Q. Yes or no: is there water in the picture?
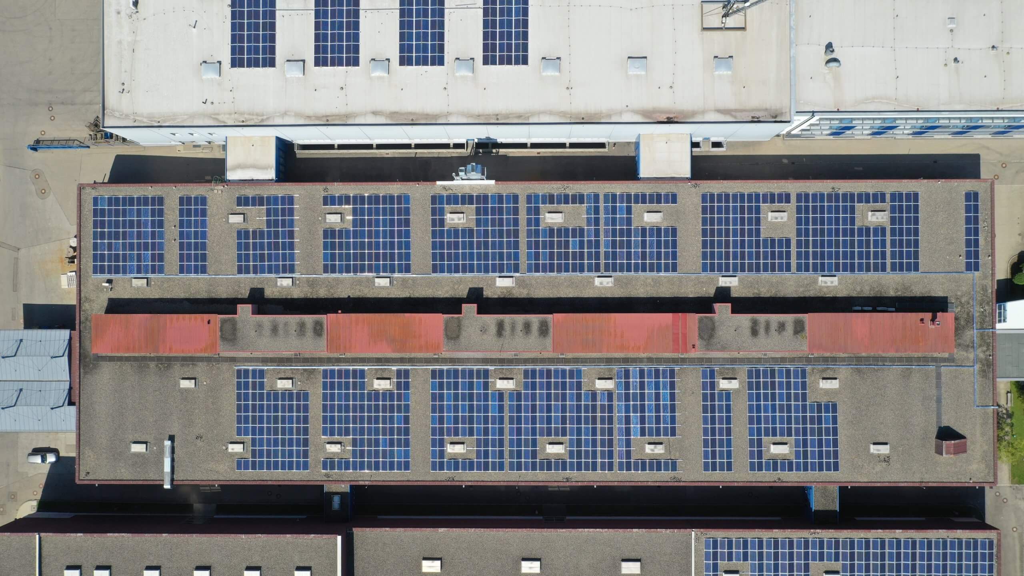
No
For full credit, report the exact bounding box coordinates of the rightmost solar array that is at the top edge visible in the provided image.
[482,0,528,66]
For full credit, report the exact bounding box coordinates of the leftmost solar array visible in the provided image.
[93,195,165,275]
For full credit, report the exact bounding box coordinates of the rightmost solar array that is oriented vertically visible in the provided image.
[962,191,981,272]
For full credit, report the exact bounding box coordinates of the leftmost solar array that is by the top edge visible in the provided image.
[231,0,276,68]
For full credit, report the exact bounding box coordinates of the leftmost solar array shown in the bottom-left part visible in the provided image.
[236,368,310,472]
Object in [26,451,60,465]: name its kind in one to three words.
car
